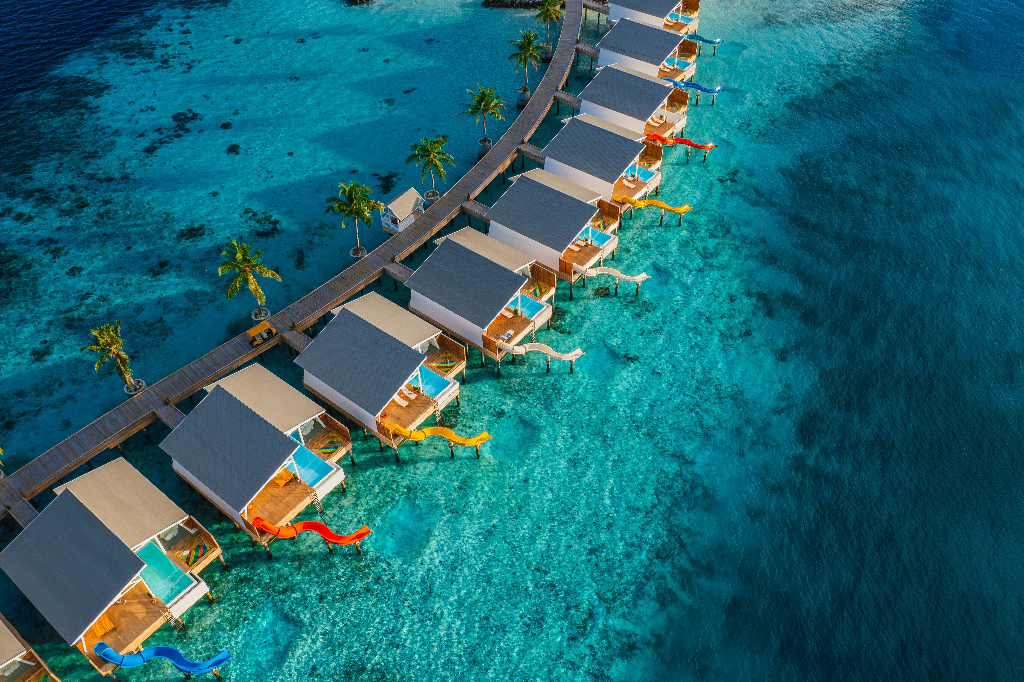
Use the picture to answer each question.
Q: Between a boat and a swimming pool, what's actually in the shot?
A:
swimming pool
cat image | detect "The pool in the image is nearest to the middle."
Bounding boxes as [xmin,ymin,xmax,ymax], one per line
[507,293,544,318]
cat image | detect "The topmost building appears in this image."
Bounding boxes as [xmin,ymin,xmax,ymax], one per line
[606,0,701,42]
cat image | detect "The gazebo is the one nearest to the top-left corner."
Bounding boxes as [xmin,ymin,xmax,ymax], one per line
[377,184,426,238]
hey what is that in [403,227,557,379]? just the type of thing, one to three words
house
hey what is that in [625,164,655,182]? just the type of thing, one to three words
swimming pool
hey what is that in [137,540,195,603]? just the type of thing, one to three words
swimming pool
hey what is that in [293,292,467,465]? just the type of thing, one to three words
house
